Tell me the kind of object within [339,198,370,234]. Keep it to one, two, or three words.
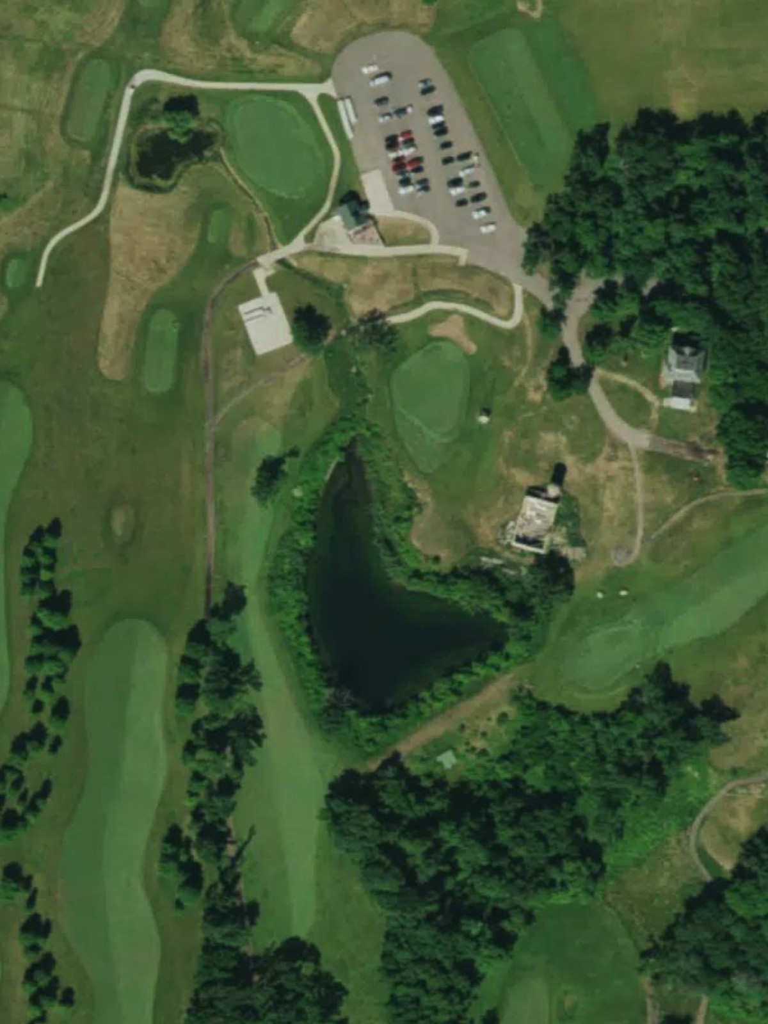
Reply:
building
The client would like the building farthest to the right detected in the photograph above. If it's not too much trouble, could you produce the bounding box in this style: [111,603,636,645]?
[664,347,706,413]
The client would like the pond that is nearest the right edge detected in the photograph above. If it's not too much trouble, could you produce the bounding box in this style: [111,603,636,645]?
[307,436,509,711]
